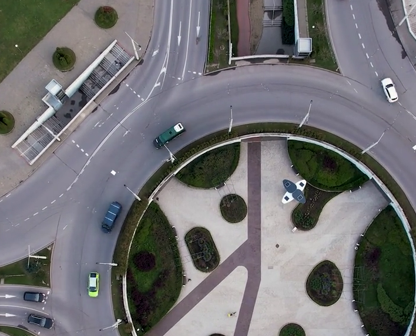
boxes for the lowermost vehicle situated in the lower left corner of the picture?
[28,313,55,329]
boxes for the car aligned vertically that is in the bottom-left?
[87,271,100,297]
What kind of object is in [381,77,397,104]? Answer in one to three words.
car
